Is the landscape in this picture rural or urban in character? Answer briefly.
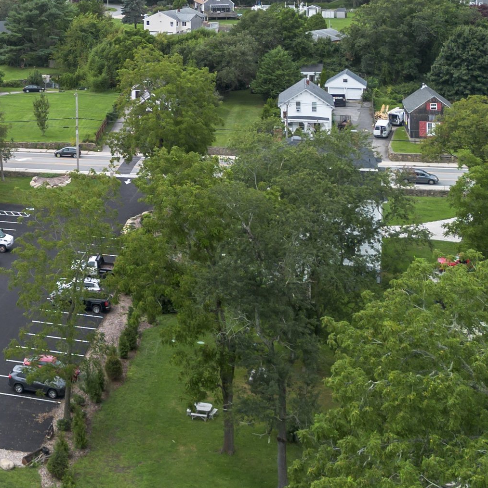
rural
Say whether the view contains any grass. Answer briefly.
Yes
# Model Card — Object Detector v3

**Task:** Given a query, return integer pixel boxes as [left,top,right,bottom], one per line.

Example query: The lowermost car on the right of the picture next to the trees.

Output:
[396,166,441,185]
